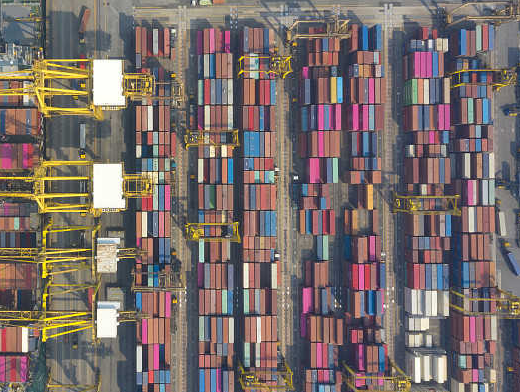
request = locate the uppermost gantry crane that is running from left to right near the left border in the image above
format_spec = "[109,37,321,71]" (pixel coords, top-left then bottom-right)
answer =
[0,59,153,127]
